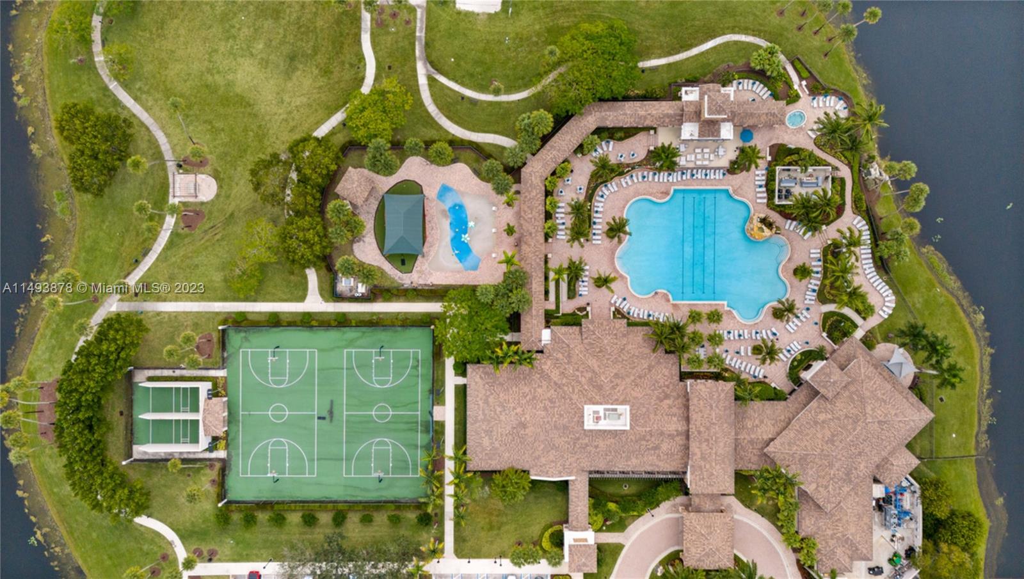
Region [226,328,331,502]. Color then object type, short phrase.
green basketball court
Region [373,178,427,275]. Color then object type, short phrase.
green playground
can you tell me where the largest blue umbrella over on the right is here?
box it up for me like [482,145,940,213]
[739,130,752,142]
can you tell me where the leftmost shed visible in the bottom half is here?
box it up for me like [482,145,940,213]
[204,397,230,438]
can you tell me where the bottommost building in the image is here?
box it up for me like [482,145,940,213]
[562,524,597,573]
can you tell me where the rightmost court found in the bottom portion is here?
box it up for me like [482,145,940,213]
[331,328,434,502]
